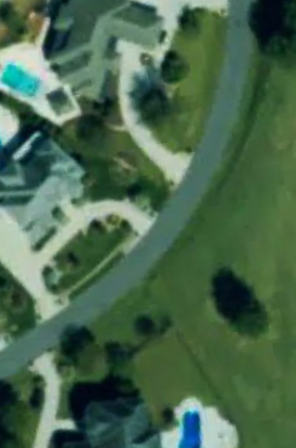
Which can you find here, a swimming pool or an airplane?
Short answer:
swimming pool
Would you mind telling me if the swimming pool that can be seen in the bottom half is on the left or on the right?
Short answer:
right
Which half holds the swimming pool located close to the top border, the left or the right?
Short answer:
left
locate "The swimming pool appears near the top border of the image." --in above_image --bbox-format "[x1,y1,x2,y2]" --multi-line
[0,20,81,126]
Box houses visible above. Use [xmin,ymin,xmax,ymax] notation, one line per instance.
[37,0,168,102]
[56,386,166,448]
[0,127,93,251]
